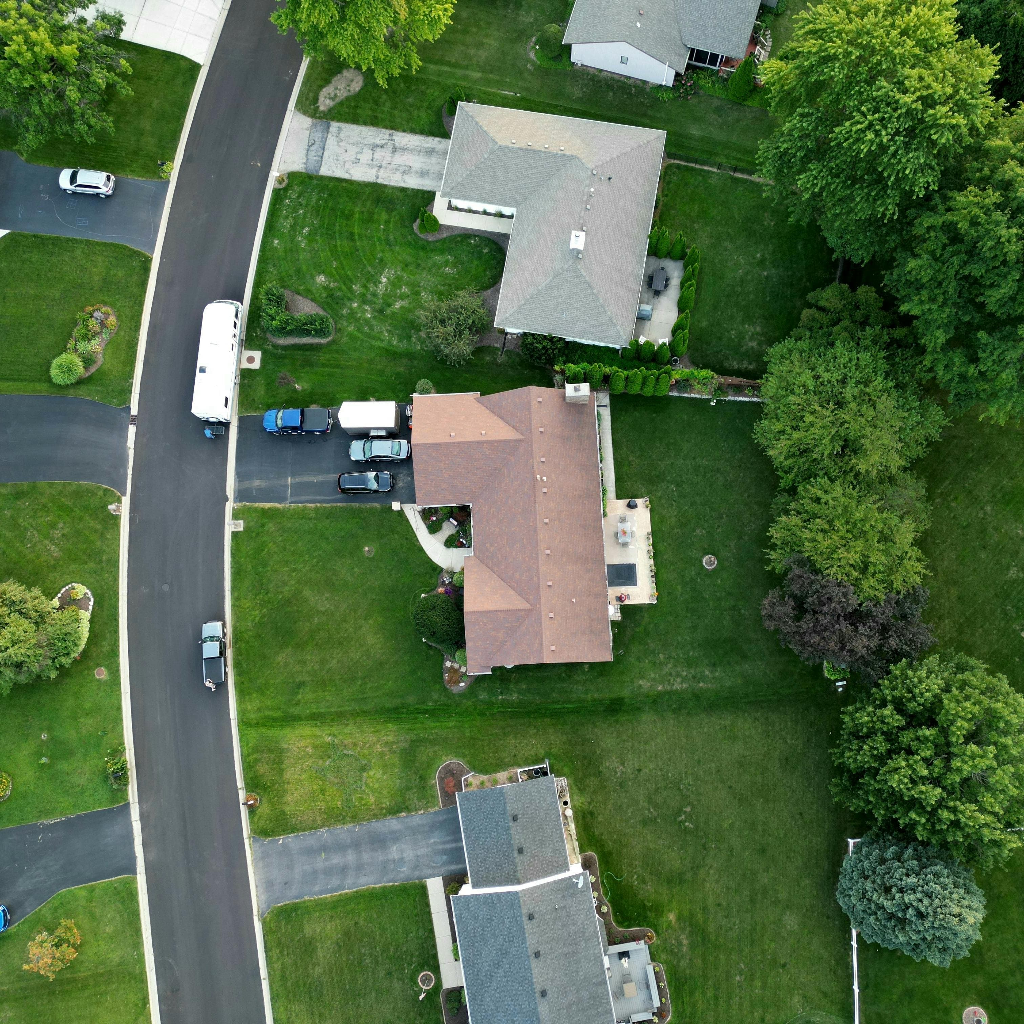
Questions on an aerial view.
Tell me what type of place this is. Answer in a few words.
residential area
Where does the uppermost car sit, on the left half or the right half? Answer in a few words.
left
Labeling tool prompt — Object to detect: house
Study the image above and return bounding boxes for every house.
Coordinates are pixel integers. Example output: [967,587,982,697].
[438,100,668,354]
[561,0,765,87]
[411,383,615,677]
[448,774,617,1024]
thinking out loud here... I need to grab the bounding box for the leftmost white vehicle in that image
[60,168,120,202]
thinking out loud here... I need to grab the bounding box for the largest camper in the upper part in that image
[189,300,243,437]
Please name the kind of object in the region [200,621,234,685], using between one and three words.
truck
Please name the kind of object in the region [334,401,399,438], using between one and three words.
trailer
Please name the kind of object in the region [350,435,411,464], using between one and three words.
car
